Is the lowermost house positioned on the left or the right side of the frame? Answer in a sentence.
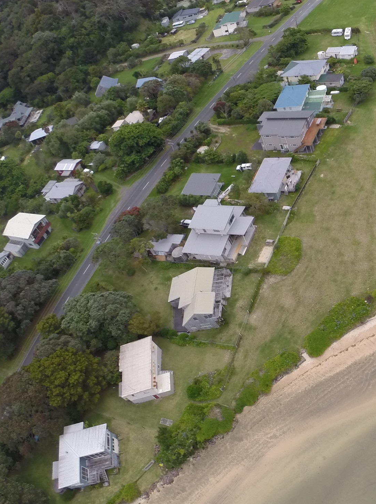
The lowermost house sits on the left side.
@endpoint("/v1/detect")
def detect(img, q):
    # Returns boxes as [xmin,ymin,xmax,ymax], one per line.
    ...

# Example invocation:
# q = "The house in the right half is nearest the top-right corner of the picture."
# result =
[326,45,359,61]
